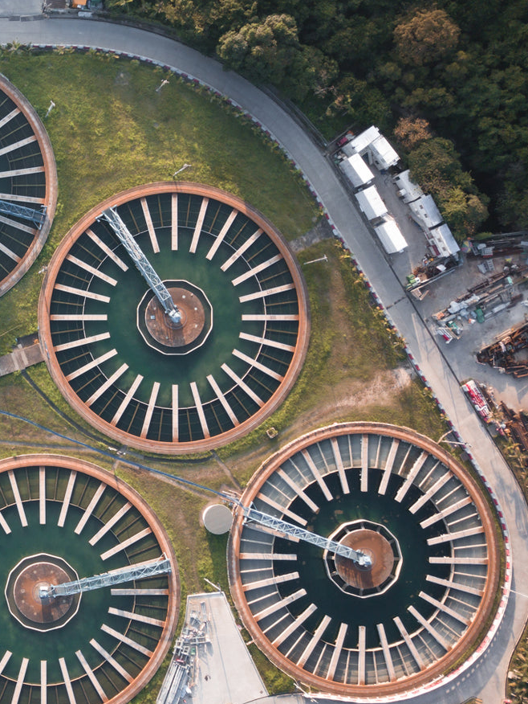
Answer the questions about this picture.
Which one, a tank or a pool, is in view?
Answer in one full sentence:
There is a tank in the scene.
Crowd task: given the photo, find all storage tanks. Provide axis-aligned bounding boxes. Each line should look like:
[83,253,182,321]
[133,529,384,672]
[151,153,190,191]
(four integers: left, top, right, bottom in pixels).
[0,455,181,704]
[227,421,505,698]
[0,74,58,296]
[37,181,309,453]
[201,503,232,533]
